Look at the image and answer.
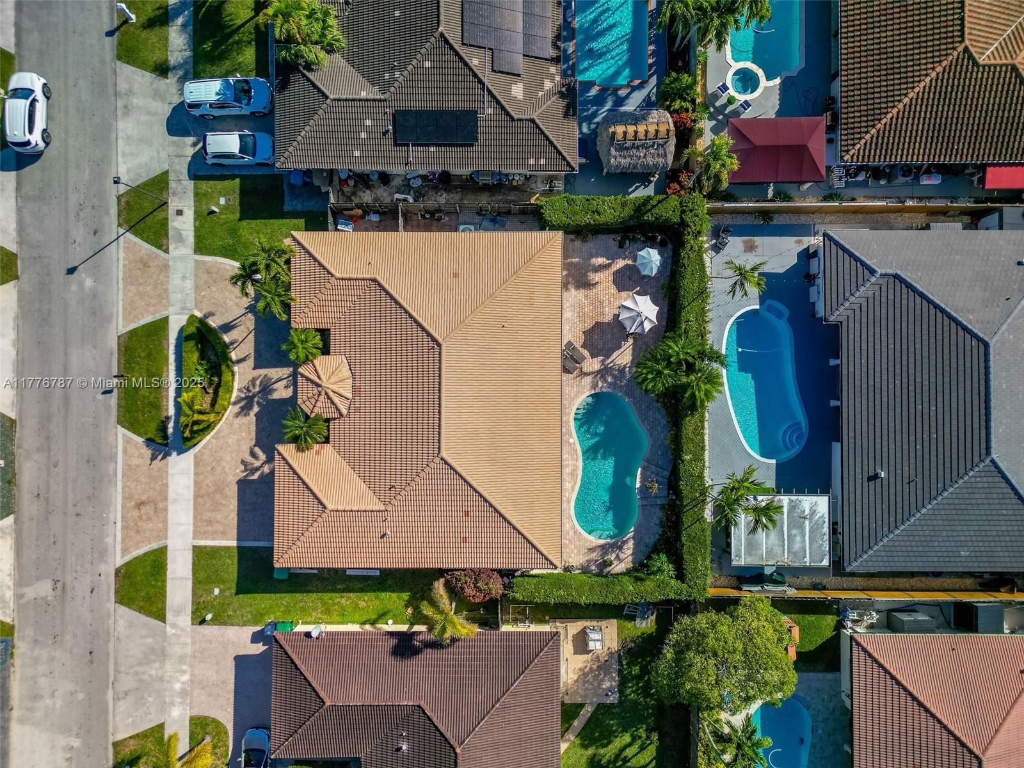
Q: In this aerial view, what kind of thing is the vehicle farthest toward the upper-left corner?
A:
automobile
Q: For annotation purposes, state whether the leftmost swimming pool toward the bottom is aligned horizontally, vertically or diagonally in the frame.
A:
vertically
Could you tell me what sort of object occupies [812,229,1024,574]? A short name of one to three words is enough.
house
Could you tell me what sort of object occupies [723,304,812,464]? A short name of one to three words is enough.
swimming pool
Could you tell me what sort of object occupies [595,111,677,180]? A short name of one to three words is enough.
shed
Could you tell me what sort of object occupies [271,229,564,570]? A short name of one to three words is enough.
house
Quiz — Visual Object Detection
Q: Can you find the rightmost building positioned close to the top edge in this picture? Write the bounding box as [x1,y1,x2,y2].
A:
[825,0,1024,171]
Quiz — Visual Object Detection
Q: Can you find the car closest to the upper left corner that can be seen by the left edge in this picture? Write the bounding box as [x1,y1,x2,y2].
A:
[4,72,52,150]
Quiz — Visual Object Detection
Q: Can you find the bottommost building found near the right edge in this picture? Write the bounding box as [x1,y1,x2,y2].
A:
[834,623,1024,768]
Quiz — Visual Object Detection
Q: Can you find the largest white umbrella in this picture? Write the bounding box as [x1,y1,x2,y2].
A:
[615,292,659,346]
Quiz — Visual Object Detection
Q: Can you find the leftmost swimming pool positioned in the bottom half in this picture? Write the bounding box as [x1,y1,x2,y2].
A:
[571,390,650,542]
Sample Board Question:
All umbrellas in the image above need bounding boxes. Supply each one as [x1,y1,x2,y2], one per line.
[615,292,659,346]
[634,250,660,276]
